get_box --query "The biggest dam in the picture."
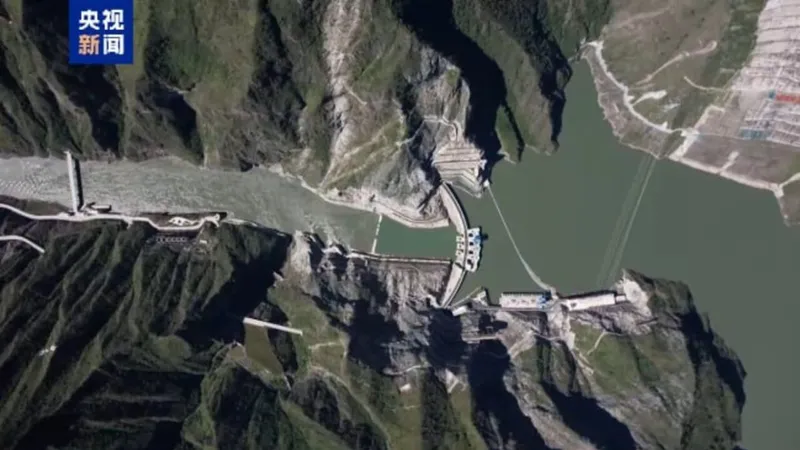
[437,175,482,311]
